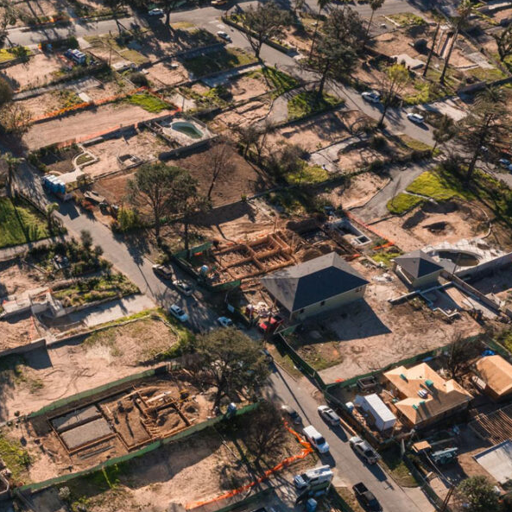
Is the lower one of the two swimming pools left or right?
right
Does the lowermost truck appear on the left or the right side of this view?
right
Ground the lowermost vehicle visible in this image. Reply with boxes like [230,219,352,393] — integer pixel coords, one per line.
[346,478,389,512]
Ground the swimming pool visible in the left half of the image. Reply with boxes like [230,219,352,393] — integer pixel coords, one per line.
[161,115,210,142]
